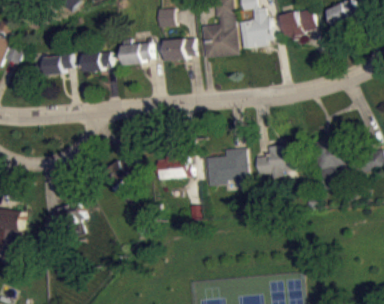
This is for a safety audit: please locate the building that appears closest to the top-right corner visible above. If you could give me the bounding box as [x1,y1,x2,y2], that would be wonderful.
[324,0,361,23]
